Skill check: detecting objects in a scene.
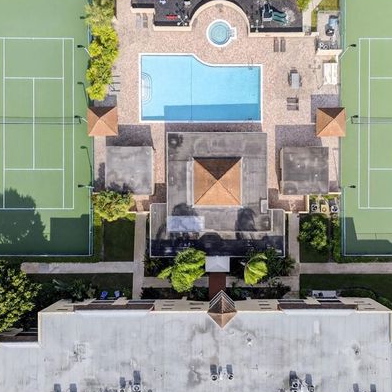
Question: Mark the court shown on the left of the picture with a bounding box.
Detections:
[0,0,94,255]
